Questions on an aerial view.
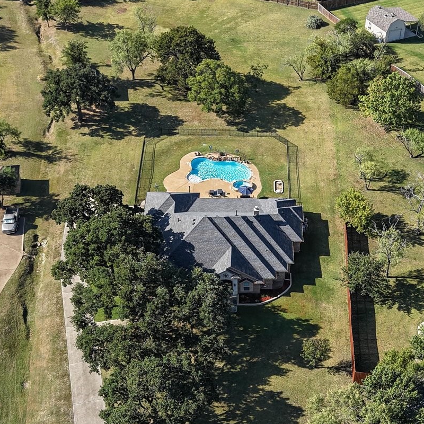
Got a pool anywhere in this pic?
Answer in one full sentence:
Yes, this view includes a pool.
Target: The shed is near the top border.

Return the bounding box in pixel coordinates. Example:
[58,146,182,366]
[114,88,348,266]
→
[364,1,422,42]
